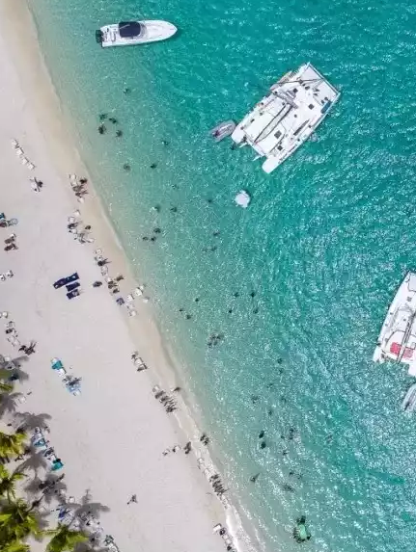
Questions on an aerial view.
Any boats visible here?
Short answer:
Yes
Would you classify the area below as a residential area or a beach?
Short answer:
beach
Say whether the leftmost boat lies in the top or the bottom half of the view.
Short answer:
top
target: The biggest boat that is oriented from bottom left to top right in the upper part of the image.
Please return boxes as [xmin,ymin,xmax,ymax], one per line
[234,62,340,172]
